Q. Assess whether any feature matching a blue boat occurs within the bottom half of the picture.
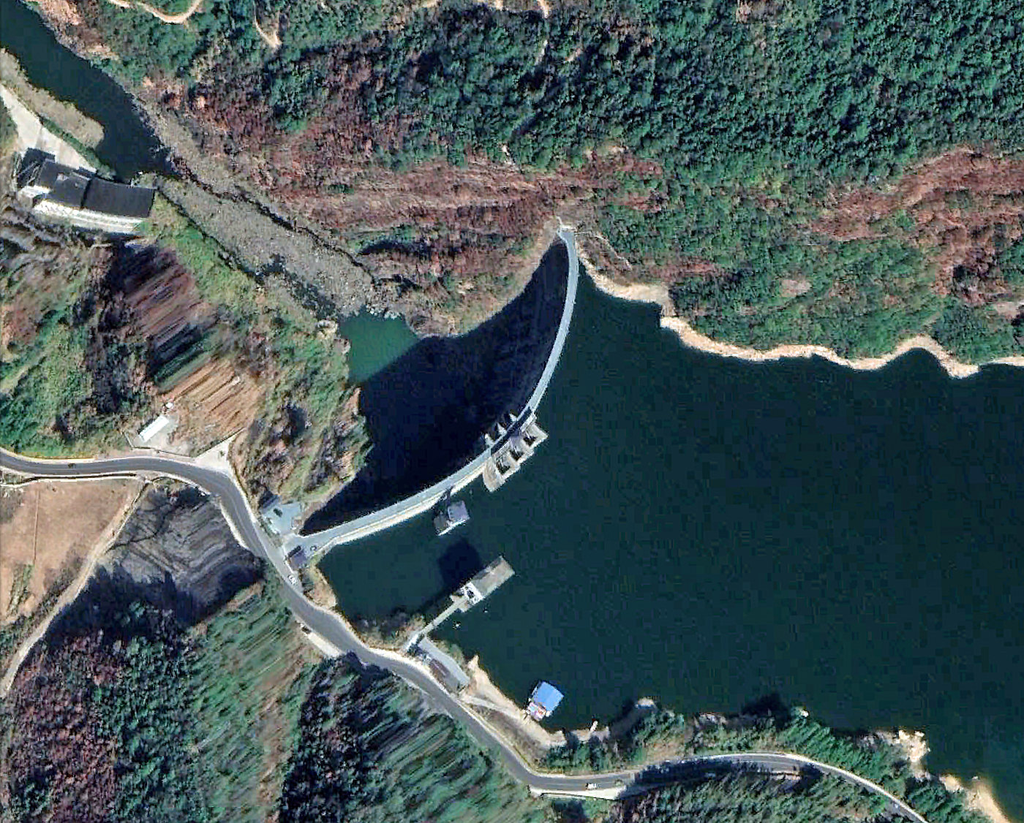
Yes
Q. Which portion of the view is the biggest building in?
top left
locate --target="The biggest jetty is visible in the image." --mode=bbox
[417,556,515,636]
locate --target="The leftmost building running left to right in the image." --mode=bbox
[19,159,157,223]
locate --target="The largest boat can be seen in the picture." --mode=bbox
[527,681,565,721]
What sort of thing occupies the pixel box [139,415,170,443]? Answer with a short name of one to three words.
shed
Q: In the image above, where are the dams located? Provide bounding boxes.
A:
[303,232,579,556]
